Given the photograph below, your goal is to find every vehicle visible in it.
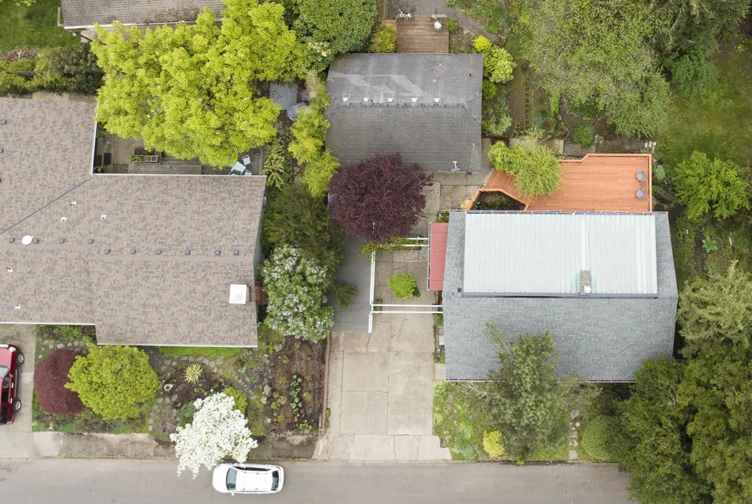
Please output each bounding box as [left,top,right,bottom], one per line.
[0,343,24,424]
[212,462,287,497]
